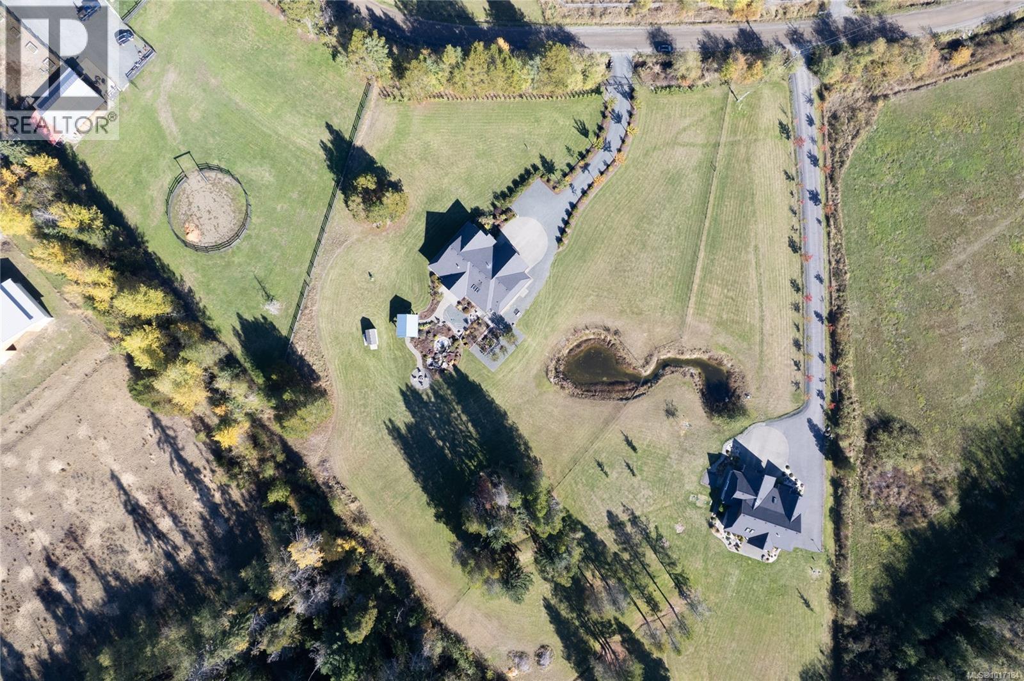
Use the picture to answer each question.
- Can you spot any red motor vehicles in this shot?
No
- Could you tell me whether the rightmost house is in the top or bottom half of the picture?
bottom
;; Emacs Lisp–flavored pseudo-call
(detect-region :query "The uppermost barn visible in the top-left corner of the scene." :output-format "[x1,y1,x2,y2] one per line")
[33,66,112,142]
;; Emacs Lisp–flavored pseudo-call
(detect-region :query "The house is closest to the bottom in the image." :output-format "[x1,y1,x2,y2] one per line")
[723,468,809,552]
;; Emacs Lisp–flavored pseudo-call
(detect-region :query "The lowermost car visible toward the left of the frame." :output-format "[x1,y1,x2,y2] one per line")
[113,30,138,47]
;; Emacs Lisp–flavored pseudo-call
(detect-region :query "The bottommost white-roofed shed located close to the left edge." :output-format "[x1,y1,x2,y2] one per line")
[0,278,51,358]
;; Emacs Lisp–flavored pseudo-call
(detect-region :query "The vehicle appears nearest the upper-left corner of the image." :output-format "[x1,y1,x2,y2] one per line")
[76,0,104,22]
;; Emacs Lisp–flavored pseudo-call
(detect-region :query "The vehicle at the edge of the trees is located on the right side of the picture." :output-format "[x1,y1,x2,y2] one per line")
[654,41,674,53]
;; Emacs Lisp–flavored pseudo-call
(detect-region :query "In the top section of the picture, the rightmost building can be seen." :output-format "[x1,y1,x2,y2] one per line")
[428,221,533,316]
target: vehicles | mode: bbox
[654,41,674,53]
[76,0,104,22]
[113,30,138,47]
